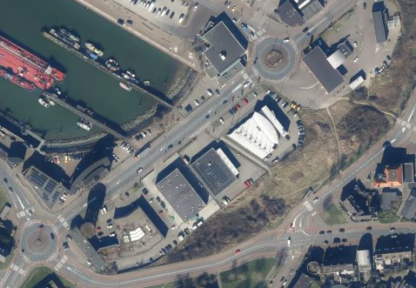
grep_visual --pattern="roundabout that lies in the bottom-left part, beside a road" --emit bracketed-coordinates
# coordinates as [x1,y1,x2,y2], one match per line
[17,220,61,263]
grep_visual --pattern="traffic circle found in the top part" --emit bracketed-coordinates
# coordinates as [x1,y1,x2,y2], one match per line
[250,35,295,80]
